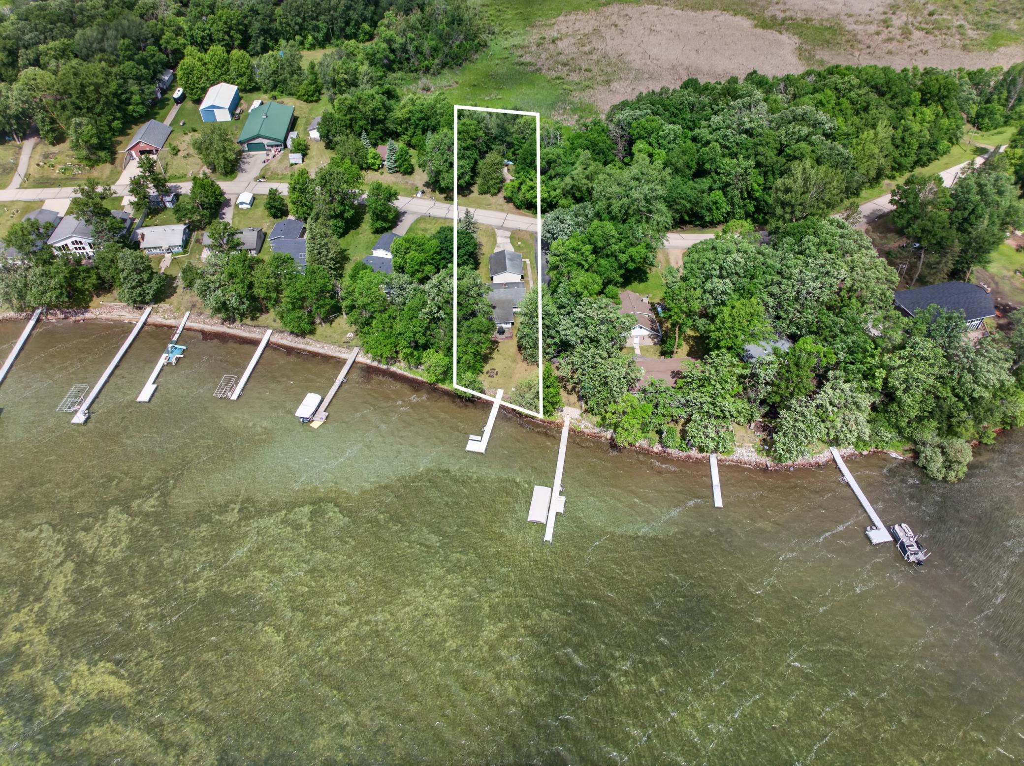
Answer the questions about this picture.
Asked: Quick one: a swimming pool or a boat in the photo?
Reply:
boat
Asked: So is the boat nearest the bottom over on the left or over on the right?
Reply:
right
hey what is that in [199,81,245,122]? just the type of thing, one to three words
barn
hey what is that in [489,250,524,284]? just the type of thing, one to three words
building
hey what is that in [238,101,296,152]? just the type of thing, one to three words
building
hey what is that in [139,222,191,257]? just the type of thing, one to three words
house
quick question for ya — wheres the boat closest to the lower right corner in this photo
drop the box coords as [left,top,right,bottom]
[891,524,927,567]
